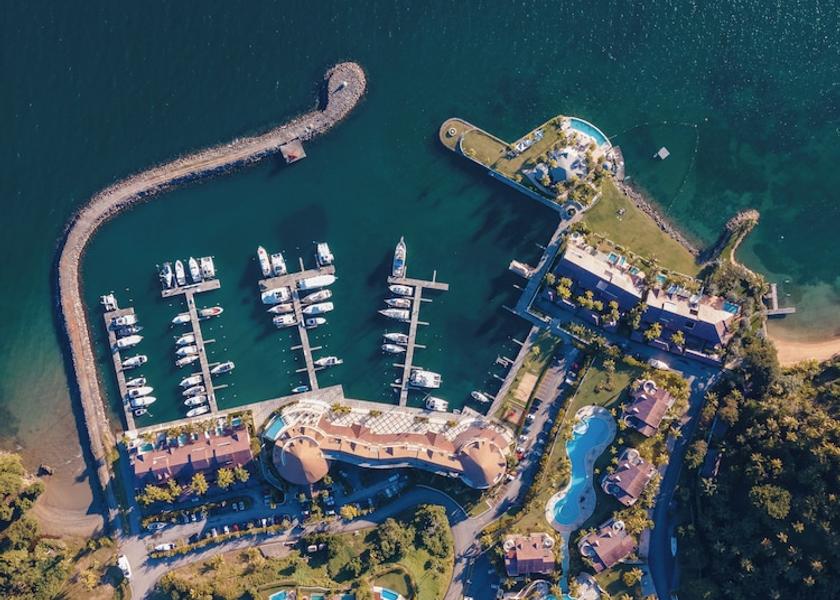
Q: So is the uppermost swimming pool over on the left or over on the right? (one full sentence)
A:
The uppermost swimming pool is on the right side of the image.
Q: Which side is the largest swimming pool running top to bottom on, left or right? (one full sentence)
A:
It is on the right.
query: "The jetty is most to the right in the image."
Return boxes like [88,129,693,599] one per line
[764,284,796,314]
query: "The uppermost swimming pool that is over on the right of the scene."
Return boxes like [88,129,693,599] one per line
[570,119,607,148]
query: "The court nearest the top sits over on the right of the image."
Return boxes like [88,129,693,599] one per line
[513,372,537,403]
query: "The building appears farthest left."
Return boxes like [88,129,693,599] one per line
[135,424,260,490]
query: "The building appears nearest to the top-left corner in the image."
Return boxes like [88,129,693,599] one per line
[281,140,306,163]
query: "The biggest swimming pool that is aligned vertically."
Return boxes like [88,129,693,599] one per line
[546,405,617,533]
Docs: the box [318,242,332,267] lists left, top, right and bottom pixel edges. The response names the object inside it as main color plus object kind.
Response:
white boat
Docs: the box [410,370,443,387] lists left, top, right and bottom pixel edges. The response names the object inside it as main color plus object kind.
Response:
white boat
